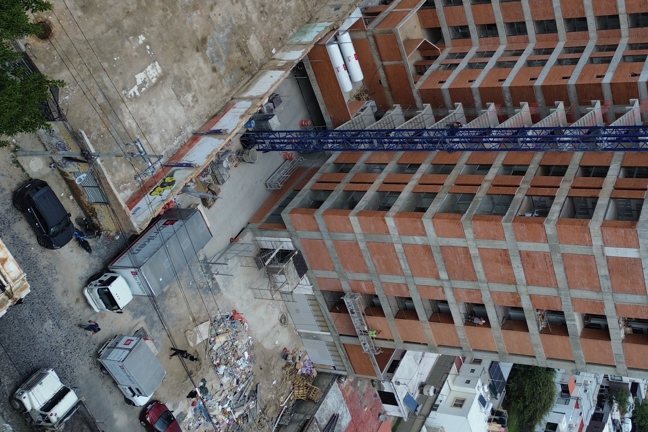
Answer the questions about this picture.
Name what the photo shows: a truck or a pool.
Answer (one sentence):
Visible in the photo is a truck.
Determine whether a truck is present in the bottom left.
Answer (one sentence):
Yes, the scene does show a truck in the bottom left.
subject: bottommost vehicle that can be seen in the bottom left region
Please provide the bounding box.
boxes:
[141,401,186,432]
